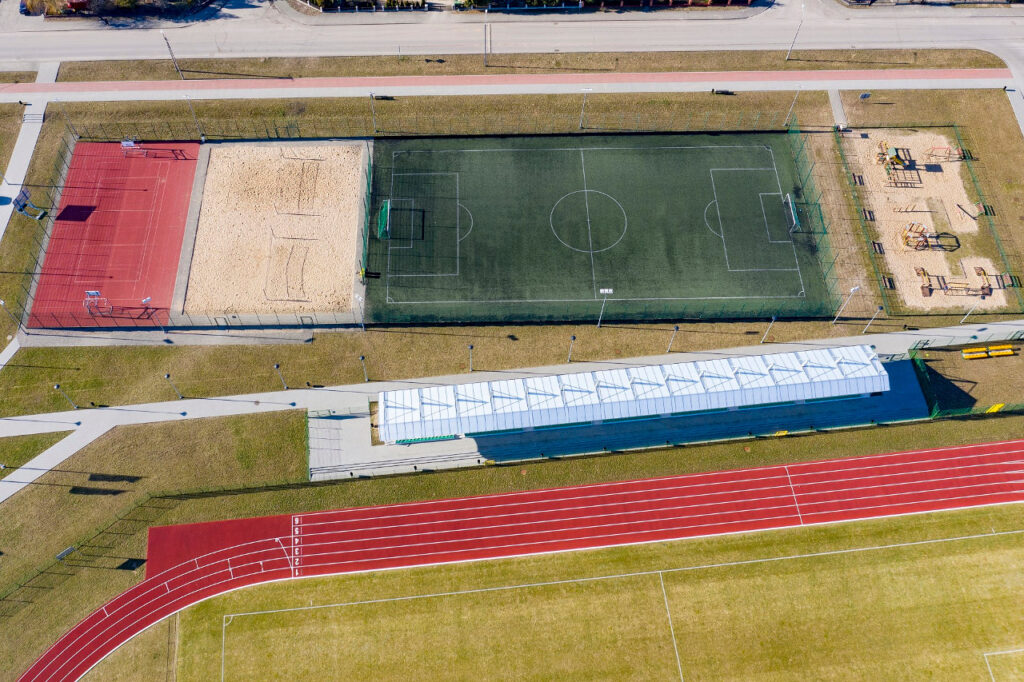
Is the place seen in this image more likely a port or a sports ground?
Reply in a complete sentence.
The area seen from above is a sports ground.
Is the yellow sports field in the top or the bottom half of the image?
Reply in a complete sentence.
The bottom half of the photo is where the yellow sports field is.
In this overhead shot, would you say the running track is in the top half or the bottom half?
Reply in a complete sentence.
The running track sits in the bottom half of the picture.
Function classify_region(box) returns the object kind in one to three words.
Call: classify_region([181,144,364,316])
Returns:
sports court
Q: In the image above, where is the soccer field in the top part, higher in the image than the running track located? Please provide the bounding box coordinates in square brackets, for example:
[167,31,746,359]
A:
[364,131,834,321]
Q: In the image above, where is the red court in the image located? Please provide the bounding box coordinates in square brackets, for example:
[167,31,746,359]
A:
[28,142,200,326]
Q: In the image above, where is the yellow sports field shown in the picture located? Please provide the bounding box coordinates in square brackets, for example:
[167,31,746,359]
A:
[177,504,1024,682]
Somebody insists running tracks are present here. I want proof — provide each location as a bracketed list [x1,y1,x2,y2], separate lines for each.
[14,439,1024,682]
